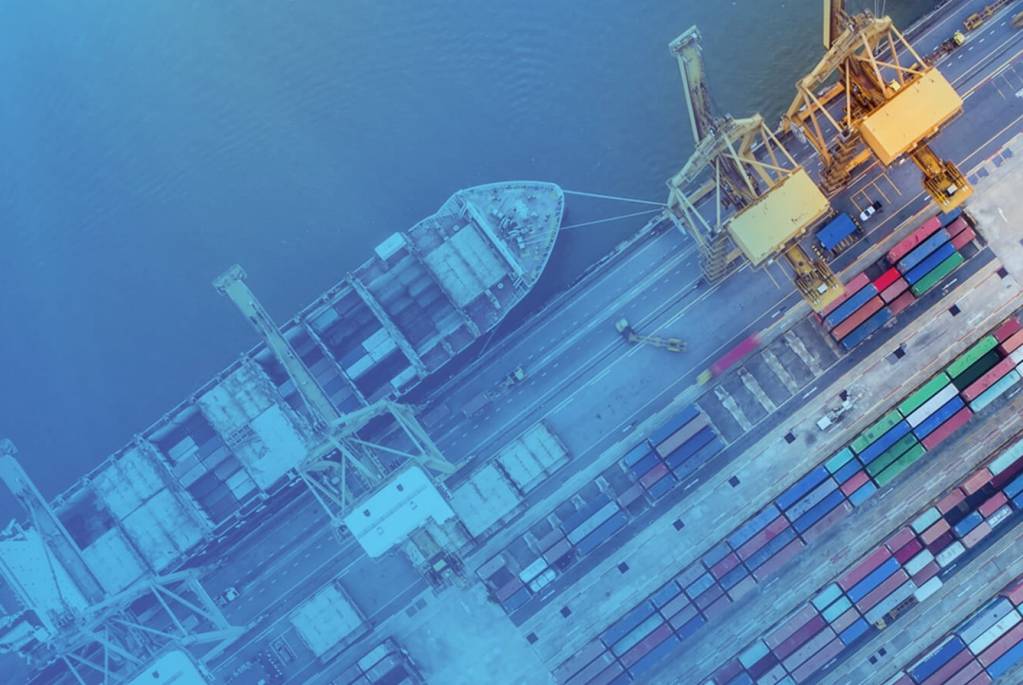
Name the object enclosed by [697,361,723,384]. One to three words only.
truck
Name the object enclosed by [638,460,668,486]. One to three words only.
shipping container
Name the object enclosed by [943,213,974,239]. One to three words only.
shipping container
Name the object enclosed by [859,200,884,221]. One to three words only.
vehicle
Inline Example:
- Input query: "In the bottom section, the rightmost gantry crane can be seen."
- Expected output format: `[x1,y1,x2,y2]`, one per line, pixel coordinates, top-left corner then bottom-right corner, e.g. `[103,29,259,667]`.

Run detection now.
[212,260,474,589]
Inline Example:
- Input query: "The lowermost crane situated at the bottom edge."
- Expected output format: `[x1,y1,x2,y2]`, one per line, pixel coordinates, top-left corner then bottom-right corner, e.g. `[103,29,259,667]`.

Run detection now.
[0,432,270,685]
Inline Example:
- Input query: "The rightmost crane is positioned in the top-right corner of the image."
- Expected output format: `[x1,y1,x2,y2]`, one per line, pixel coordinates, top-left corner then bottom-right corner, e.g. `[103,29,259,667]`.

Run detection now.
[767,0,978,215]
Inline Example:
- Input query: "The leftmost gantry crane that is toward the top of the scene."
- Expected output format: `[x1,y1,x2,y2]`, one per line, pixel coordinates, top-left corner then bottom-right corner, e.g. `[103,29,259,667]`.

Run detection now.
[656,26,846,315]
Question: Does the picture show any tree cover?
No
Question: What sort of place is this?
port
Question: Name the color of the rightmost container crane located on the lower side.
blue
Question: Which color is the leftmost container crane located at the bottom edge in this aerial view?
blue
